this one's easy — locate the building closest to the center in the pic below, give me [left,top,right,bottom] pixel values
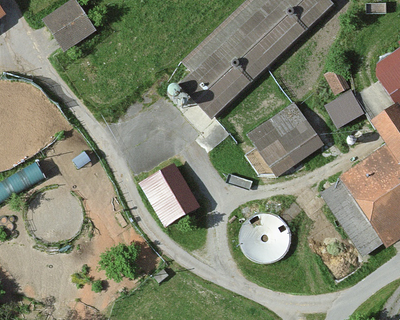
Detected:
[139,164,200,226]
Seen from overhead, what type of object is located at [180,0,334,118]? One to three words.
barn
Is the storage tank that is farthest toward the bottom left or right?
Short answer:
right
